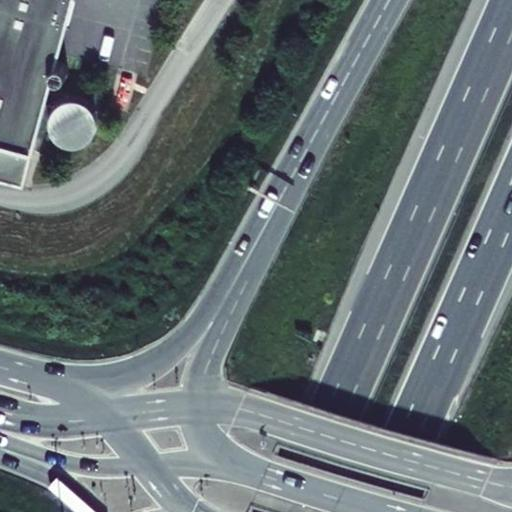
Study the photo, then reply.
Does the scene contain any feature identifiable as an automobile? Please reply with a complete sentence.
Yes, an automobile can be made out from above.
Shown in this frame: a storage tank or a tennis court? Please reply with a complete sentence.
It is a storage tank that can be seen here.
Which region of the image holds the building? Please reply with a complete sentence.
The building is located in the top left region of the scene.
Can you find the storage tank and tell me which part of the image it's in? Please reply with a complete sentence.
Look in the top left portion of the view to spot the storage tank.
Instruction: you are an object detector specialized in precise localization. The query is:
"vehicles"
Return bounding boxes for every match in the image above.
[99,32,114,60]
[79,460,100,471]
[235,234,251,255]
[45,364,66,374]
[431,314,448,339]
[0,396,18,408]
[0,437,6,446]
[46,454,66,466]
[0,455,20,467]
[465,232,482,256]
[502,192,512,214]
[297,154,315,176]
[20,422,41,433]
[258,193,276,218]
[288,136,305,157]
[114,72,131,106]
[321,78,338,98]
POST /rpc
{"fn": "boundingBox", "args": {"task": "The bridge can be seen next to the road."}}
[218,380,512,512]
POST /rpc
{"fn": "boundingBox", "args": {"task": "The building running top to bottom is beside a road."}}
[0,0,76,190]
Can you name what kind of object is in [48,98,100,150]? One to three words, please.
storage tank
